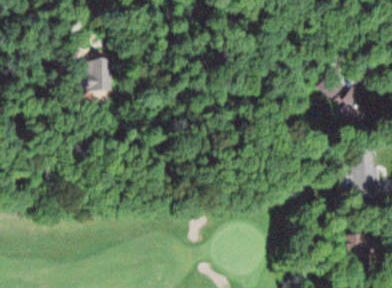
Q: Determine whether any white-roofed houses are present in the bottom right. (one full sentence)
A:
No, in the bottom right there is no white-roofed house.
